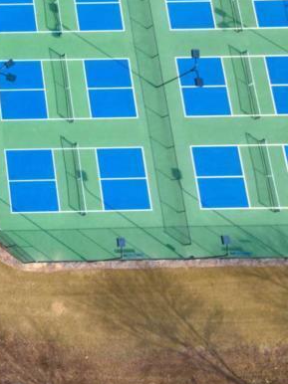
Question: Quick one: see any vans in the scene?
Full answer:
No, I can see no van in this picture.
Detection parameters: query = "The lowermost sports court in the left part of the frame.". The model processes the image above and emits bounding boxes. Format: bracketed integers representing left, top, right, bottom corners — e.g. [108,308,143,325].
[6,147,153,212]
